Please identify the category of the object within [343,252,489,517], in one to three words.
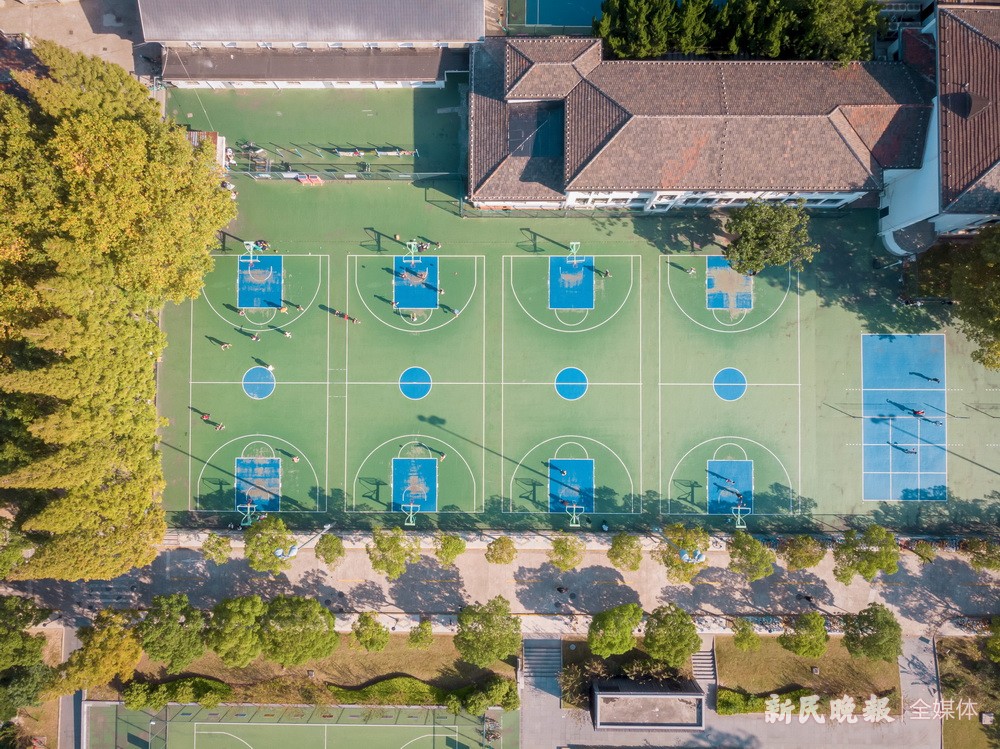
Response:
basketball court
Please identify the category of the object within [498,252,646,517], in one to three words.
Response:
basketball court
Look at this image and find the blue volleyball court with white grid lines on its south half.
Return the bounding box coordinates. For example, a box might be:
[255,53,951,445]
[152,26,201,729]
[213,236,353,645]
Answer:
[848,333,964,501]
